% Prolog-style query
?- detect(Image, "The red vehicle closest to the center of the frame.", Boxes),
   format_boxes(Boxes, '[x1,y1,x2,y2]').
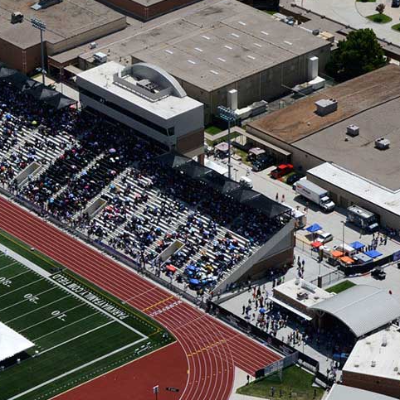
[270,161,294,176]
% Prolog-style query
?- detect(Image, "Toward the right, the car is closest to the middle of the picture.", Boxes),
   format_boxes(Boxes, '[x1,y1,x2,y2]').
[235,170,255,186]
